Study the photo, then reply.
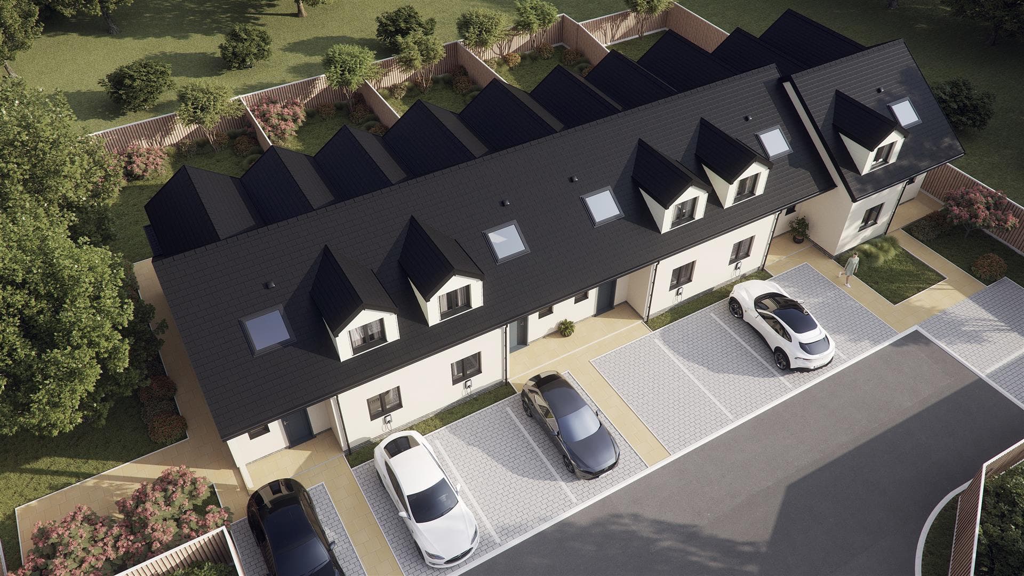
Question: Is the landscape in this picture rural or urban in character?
urban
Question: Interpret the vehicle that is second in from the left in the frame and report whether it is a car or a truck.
car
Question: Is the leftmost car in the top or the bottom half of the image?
bottom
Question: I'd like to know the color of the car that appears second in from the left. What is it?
white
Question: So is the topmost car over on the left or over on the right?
right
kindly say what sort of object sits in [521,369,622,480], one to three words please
car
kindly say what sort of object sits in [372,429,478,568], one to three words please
car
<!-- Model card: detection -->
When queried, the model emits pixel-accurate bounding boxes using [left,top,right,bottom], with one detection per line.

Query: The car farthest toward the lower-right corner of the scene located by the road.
[730,280,834,367]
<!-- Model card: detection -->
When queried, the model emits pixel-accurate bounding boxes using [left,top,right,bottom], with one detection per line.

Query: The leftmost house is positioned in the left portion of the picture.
[141,145,430,495]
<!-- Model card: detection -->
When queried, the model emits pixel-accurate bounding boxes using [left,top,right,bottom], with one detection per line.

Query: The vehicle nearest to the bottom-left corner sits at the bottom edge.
[251,483,346,576]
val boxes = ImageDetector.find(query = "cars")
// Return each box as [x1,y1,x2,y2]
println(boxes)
[521,369,622,480]
[730,280,834,367]
[372,429,478,568]
[251,483,346,576]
